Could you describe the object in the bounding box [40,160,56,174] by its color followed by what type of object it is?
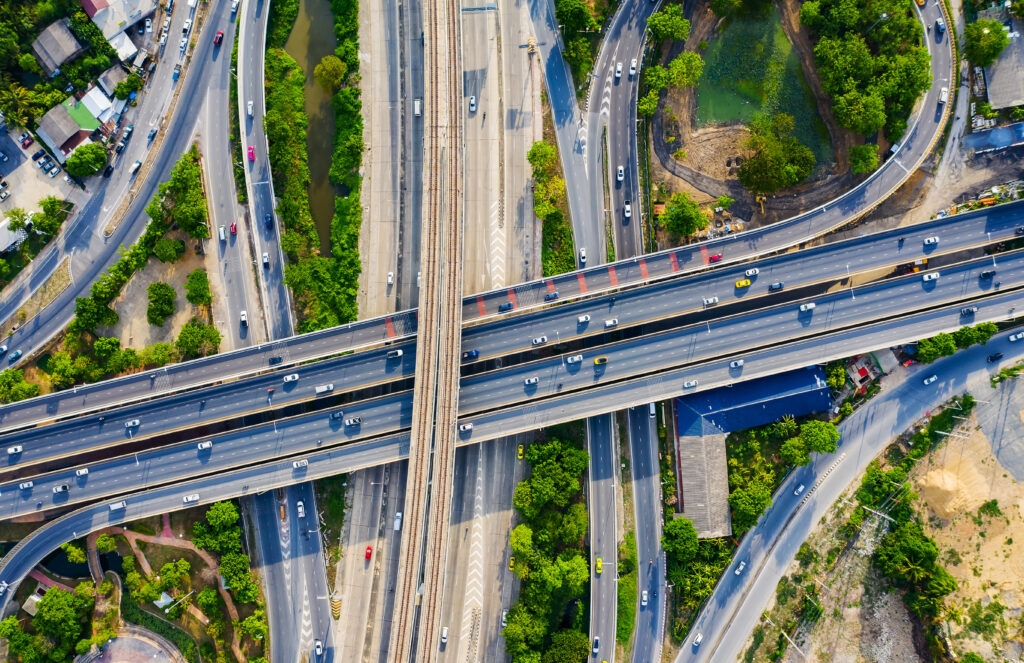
blue car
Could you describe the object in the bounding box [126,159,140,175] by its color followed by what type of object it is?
white vehicle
